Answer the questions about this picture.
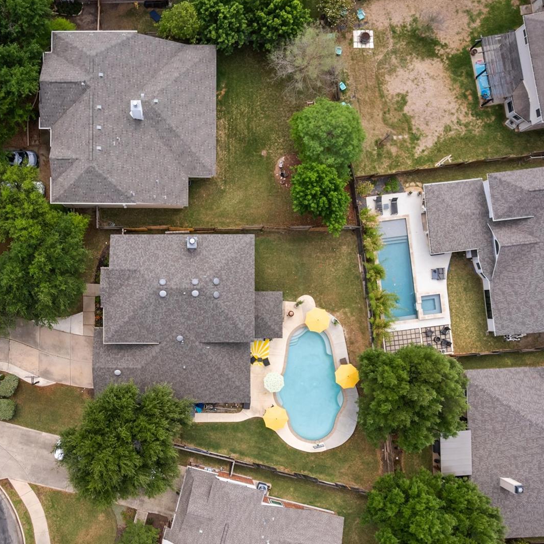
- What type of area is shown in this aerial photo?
residential area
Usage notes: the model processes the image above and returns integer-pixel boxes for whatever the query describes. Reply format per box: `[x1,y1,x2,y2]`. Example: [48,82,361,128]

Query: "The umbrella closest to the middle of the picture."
[305,307,329,333]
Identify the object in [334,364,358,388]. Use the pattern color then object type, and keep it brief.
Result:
yellow umbrella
